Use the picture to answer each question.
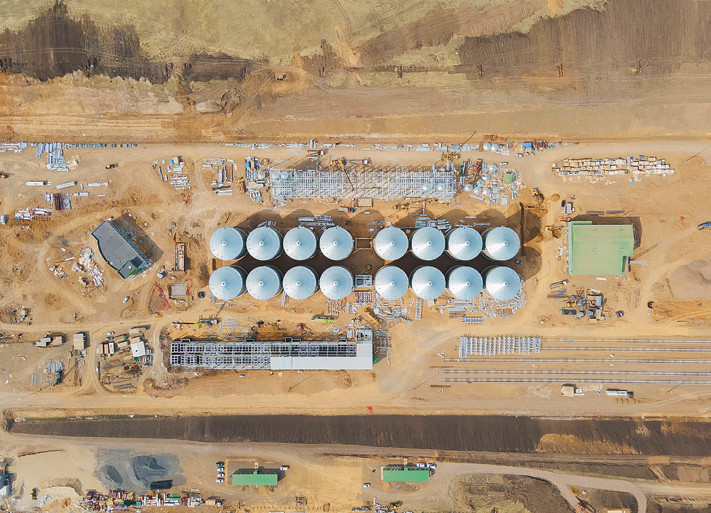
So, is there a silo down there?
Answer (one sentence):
Yes, there is a silo in the image.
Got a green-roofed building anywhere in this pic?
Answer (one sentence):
Yes, this view includes a green-roofed building.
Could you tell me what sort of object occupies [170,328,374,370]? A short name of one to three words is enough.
building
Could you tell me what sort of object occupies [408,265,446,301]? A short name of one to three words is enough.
silo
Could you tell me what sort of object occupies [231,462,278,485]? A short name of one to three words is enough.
building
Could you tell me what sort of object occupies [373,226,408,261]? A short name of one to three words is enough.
silo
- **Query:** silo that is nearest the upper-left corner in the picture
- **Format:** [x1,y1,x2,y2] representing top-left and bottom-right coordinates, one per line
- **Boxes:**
[209,226,248,261]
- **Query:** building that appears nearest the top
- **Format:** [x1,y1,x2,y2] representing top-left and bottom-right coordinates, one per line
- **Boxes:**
[269,162,458,199]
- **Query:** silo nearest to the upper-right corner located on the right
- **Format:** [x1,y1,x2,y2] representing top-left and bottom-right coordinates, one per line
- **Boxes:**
[481,226,520,261]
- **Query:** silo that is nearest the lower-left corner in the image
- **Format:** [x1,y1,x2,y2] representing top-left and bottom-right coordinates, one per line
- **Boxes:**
[209,265,248,301]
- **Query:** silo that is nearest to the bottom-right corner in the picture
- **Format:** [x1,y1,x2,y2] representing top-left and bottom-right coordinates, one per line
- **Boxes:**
[480,265,520,301]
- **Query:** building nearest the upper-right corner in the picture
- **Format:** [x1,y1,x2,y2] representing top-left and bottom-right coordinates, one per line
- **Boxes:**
[566,221,637,276]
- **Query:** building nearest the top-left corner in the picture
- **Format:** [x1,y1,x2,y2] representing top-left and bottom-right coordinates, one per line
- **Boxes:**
[92,219,156,281]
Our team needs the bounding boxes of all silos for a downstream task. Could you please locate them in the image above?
[246,265,284,301]
[481,226,520,261]
[283,226,319,261]
[373,226,408,261]
[373,265,408,301]
[319,265,354,301]
[408,226,446,261]
[319,226,354,261]
[408,265,446,301]
[444,265,483,301]
[480,265,520,301]
[444,226,483,261]
[283,265,319,301]
[209,265,248,301]
[246,226,283,261]
[209,226,248,261]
